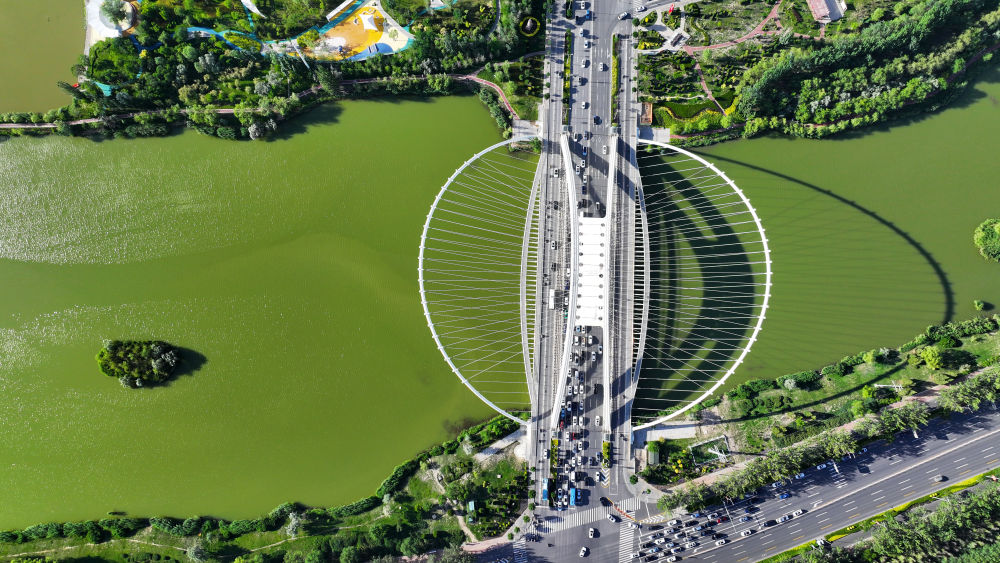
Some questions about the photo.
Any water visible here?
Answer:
Yes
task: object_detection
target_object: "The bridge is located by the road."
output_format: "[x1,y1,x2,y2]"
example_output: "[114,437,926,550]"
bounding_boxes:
[416,124,772,444]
